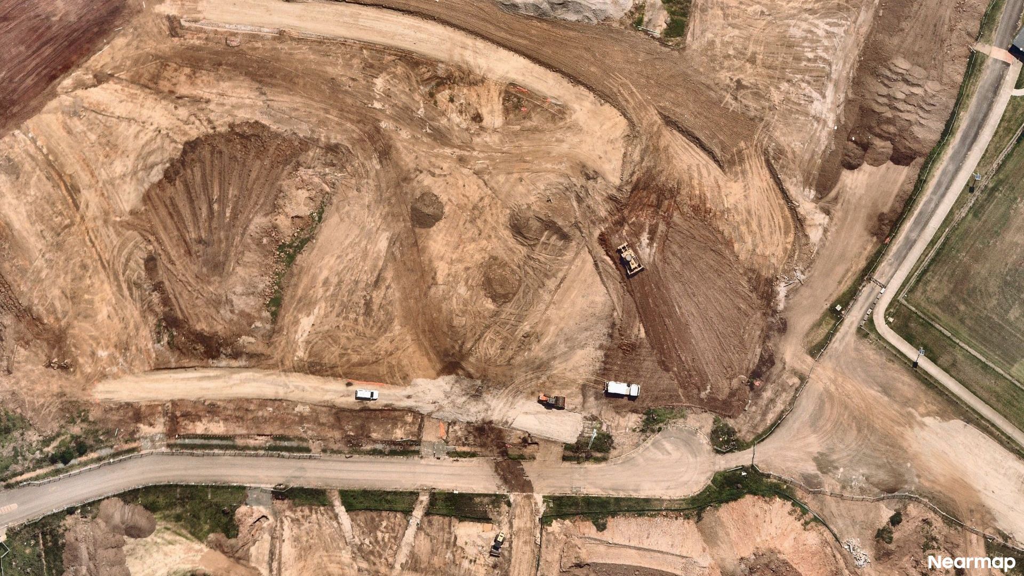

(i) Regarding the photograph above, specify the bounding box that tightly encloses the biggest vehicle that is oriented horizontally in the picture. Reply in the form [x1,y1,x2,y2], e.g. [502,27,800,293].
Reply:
[604,381,642,396]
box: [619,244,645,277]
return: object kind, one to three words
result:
work vehicle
